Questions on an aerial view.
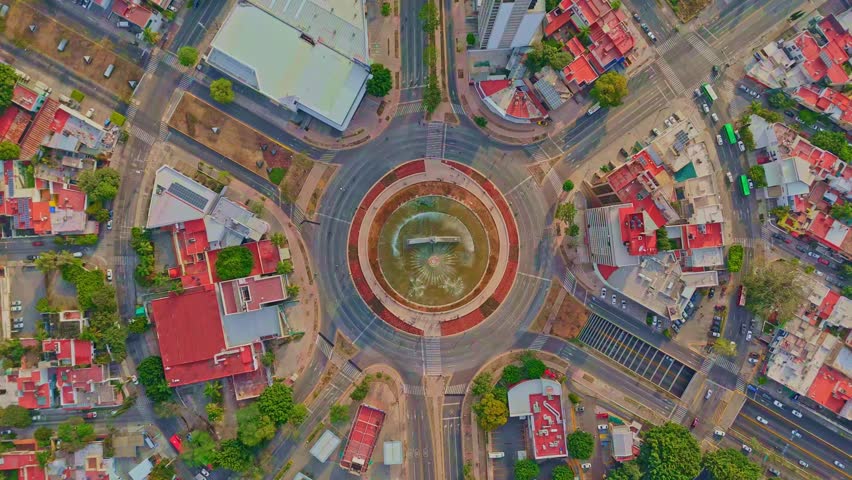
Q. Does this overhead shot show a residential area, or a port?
residential area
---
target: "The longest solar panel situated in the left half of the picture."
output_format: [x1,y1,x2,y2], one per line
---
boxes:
[170,184,207,210]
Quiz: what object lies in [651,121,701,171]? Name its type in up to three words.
building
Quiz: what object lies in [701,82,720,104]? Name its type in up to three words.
vehicle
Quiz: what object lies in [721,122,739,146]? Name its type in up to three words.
vehicle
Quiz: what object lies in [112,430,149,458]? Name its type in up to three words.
shed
